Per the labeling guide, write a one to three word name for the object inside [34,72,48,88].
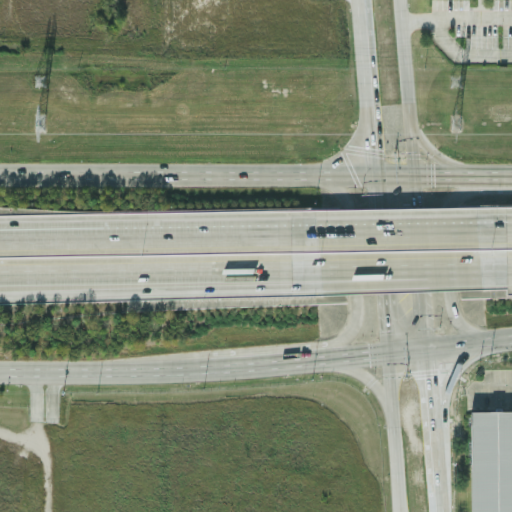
pylon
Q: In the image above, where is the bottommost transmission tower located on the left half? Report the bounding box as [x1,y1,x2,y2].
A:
[33,113,46,132]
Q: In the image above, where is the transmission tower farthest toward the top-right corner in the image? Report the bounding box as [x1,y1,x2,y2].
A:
[450,72,464,88]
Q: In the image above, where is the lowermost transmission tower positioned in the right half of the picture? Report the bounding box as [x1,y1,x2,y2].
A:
[452,113,465,132]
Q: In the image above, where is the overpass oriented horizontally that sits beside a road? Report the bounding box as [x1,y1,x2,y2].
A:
[0,206,512,309]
